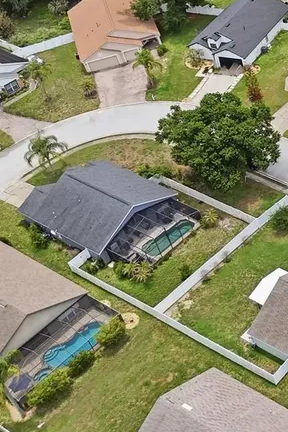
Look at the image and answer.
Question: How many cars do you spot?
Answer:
none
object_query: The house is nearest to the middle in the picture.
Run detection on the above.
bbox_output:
[13,160,174,262]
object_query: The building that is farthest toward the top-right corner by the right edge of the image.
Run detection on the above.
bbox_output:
[184,0,288,68]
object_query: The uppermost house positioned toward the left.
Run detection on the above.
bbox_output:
[67,0,159,74]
